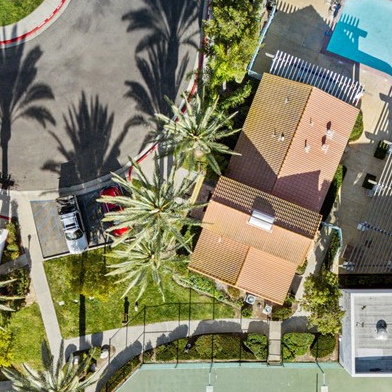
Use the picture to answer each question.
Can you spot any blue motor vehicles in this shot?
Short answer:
No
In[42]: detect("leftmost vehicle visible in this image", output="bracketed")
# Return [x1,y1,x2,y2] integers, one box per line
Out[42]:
[50,190,92,257]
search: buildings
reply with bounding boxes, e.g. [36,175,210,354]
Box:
[339,288,392,376]
[188,73,359,301]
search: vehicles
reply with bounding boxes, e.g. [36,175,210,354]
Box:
[99,184,136,240]
[50,190,92,257]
